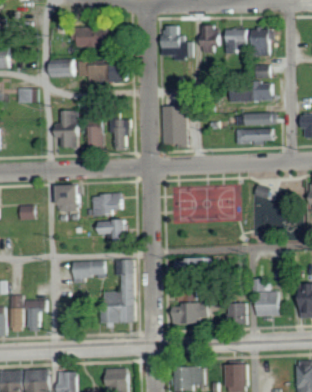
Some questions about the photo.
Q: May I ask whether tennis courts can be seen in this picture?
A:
No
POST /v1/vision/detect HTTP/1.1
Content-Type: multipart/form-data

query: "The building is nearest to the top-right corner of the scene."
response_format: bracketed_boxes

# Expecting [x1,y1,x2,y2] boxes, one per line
[248,28,272,56]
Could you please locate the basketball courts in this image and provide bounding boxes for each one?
[173,184,242,224]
